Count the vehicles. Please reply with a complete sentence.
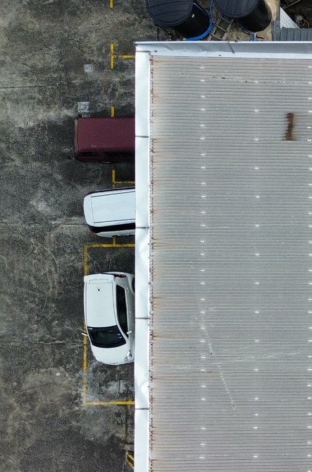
The picture shows 3 vehicles.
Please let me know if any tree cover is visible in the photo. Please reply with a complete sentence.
No, the scene doesn't show any tree cover.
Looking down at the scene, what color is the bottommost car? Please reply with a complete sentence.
The bottommost car is white.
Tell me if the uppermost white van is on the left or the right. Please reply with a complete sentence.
The uppermost white van appears in the left half of the scene.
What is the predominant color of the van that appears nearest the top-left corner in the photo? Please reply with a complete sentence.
From above, the van that appears nearest the top-left corner appears red.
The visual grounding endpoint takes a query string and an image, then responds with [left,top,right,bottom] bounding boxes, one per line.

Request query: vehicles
[83,186,136,238]
[82,273,136,365]
[74,118,136,165]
